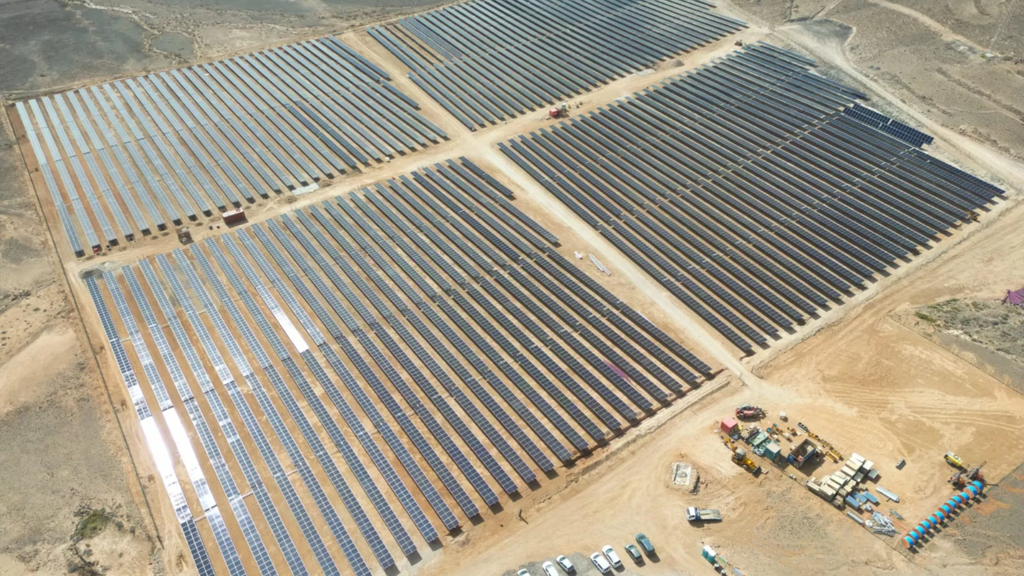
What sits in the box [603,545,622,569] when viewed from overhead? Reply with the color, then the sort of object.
white car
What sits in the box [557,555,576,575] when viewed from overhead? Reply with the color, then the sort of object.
white car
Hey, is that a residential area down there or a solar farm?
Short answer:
solar farm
